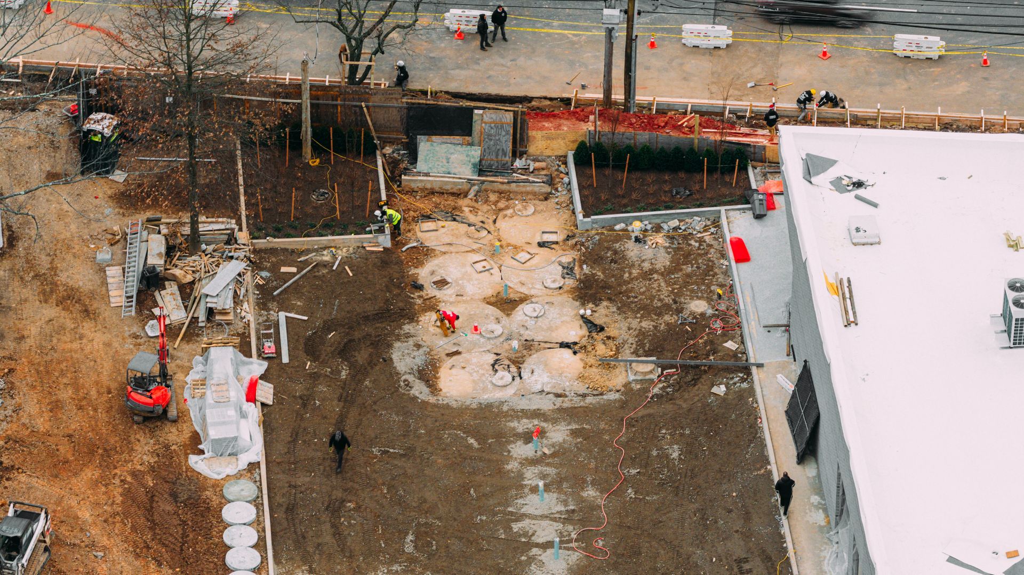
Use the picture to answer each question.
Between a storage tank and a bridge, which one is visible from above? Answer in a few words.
storage tank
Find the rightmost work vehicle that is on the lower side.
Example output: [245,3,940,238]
[123,308,183,425]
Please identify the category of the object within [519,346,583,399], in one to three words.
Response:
storage tank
